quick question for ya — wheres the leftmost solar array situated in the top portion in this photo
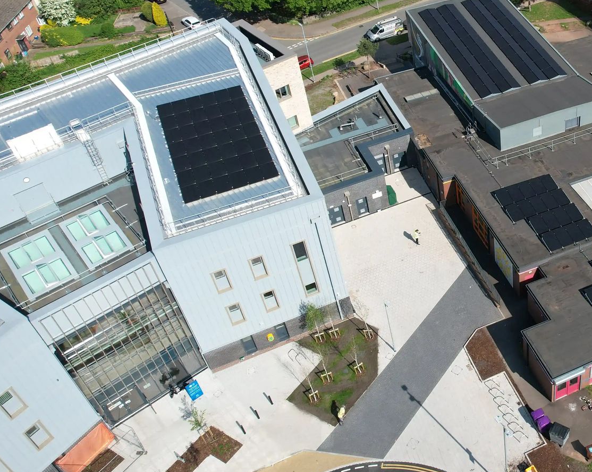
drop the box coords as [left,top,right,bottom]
[155,85,280,201]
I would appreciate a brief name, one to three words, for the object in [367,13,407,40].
vehicle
